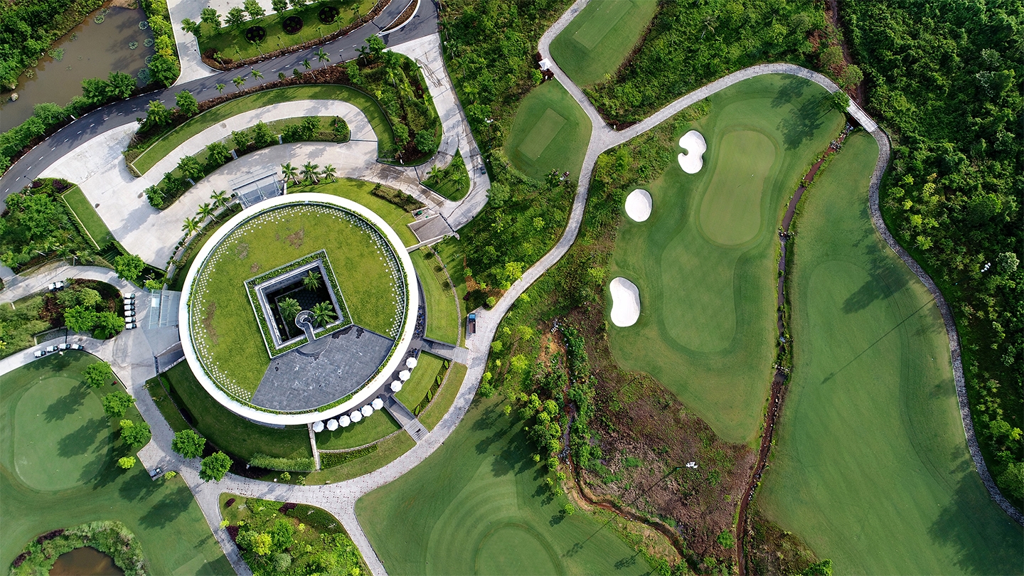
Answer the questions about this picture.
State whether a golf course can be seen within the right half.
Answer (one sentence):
Yes, you'll find a golf course within the right half.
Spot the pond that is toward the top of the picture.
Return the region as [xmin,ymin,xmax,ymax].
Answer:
[0,7,155,146]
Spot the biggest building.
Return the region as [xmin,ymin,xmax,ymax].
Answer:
[148,165,429,431]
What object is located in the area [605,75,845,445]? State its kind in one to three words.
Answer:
golf course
